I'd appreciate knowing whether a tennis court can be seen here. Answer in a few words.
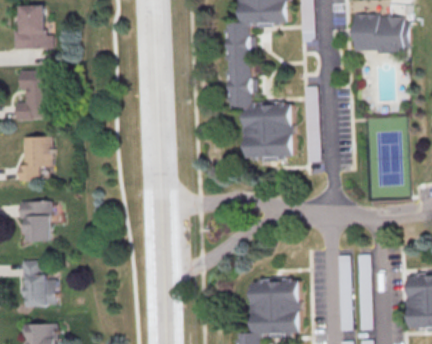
Yes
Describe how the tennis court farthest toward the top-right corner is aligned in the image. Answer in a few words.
up and down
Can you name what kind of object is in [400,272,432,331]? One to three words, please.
building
